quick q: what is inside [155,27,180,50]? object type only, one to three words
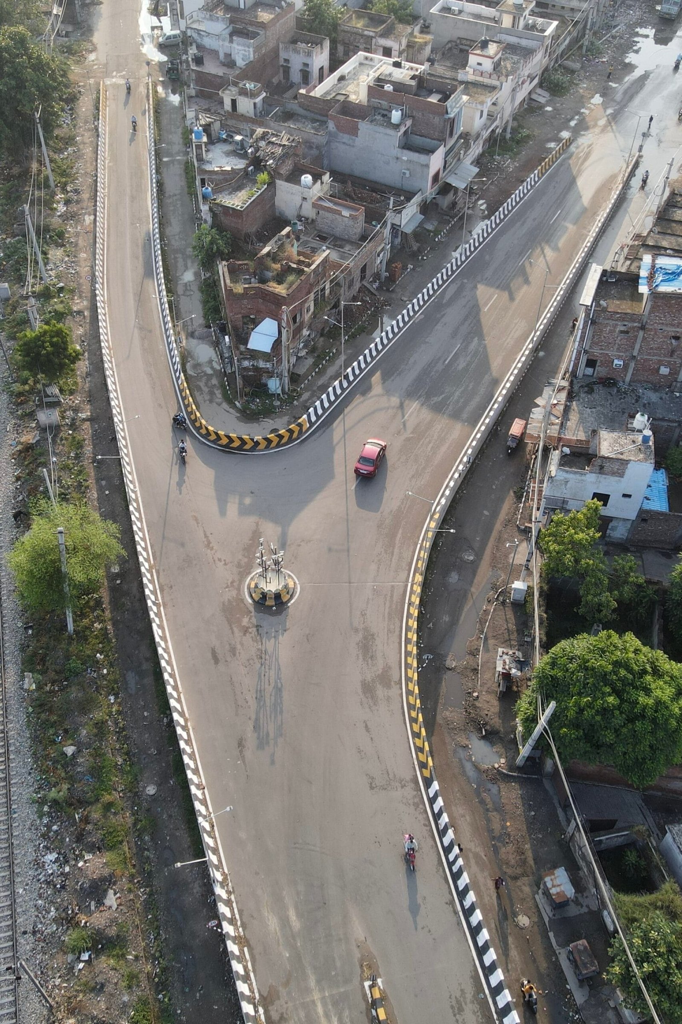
vehicle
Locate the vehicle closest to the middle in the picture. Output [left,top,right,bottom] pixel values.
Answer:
[352,434,385,479]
